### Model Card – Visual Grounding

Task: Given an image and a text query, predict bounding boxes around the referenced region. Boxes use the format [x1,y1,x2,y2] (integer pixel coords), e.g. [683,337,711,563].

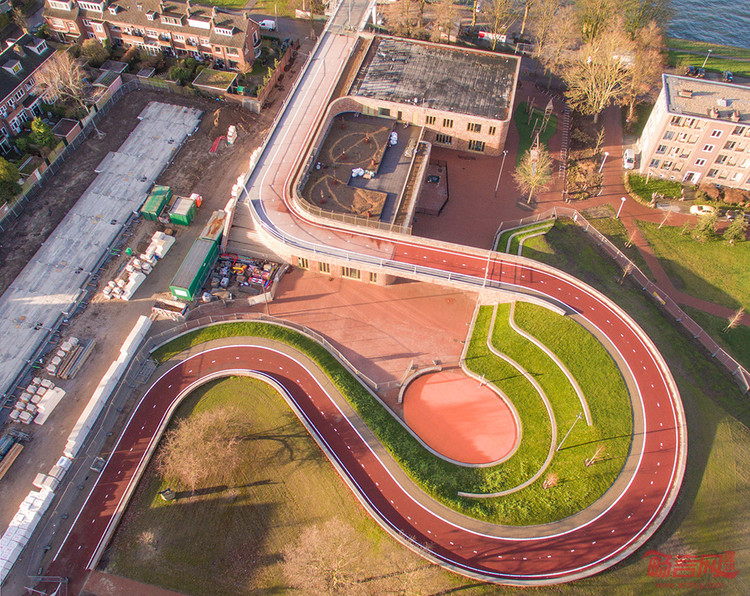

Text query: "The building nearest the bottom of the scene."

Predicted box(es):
[169,239,219,302]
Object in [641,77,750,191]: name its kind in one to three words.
building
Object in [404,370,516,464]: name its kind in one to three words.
sports court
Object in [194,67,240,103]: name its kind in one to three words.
shed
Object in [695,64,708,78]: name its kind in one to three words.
vehicle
